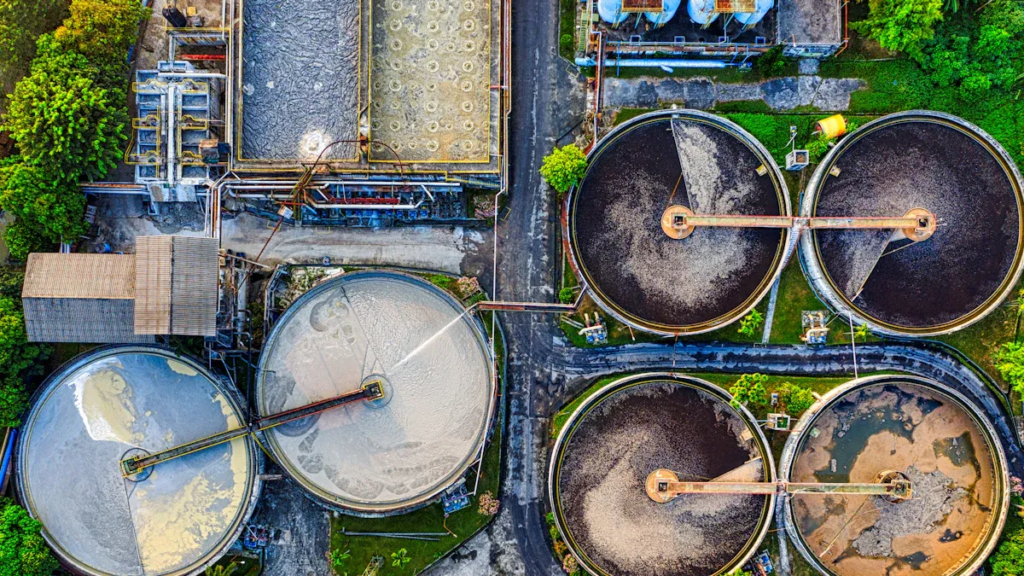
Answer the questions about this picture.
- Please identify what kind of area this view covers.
industrial area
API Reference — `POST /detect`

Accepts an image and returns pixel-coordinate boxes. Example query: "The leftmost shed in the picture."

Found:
[21,253,170,344]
